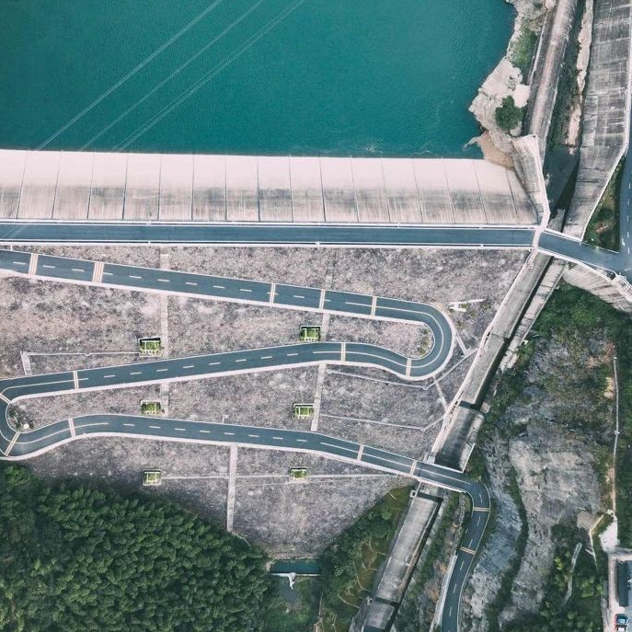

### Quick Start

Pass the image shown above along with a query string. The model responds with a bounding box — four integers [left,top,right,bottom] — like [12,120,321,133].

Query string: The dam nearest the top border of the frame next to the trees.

[0,149,539,557]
